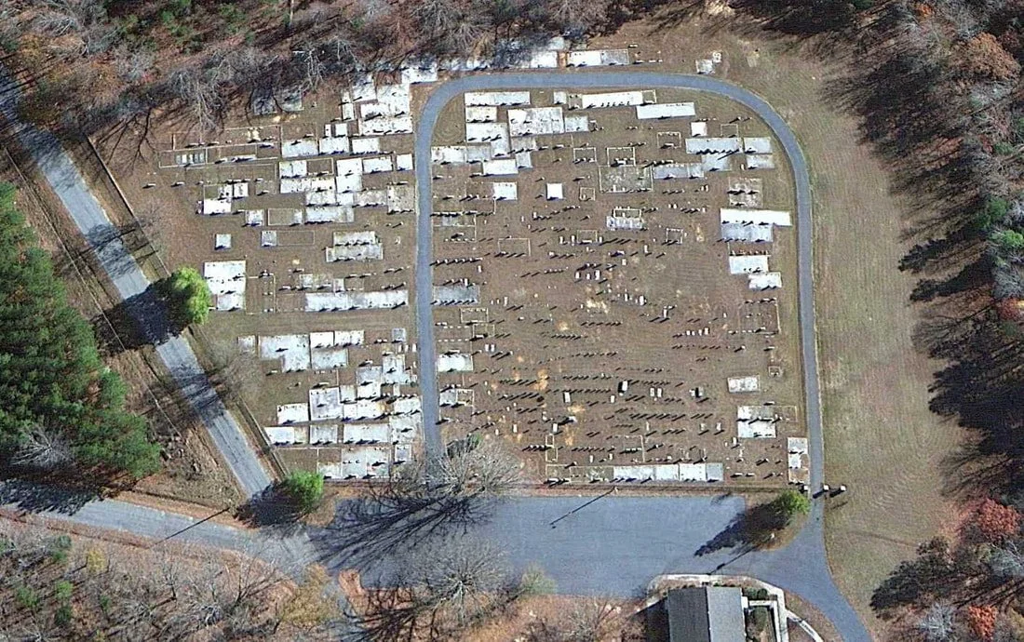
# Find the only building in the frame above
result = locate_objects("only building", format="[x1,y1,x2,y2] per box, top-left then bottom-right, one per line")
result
[668,582,749,642]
